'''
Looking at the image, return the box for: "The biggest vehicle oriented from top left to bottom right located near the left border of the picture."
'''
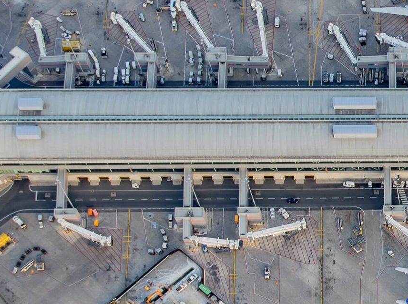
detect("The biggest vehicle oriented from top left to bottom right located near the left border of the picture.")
[12,216,27,229]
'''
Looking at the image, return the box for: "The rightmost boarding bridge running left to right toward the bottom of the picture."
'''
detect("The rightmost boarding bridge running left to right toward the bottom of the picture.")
[246,218,311,244]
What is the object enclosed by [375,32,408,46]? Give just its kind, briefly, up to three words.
jet bridge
